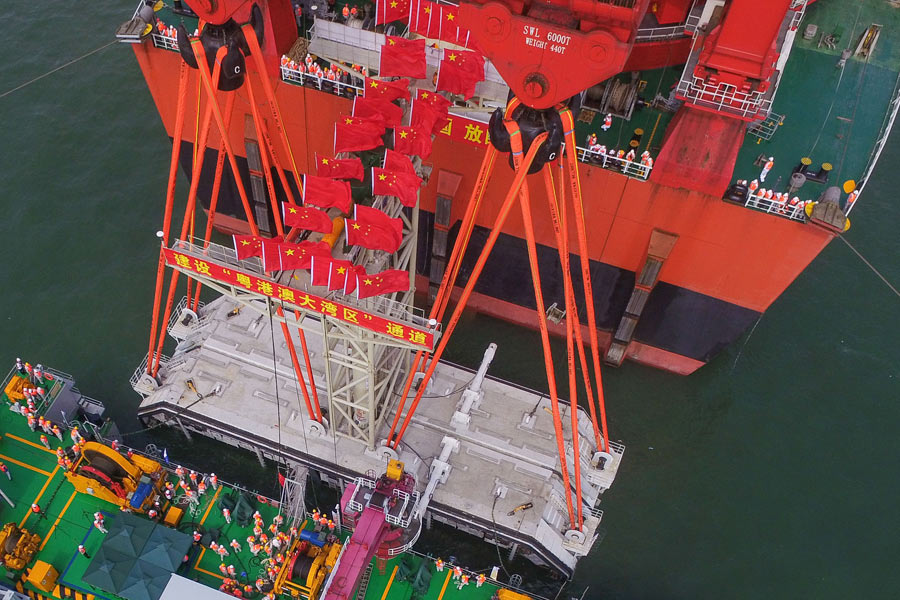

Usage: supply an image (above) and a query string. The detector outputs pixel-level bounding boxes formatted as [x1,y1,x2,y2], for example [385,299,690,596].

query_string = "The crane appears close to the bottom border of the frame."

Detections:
[304,452,432,600]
